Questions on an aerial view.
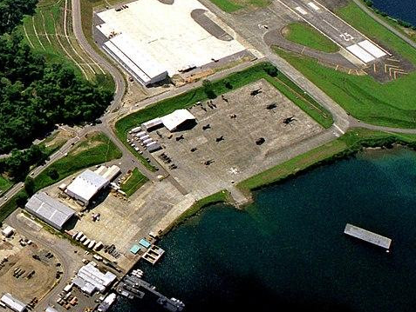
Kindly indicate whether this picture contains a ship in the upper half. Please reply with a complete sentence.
No, I see no ship in the upper half.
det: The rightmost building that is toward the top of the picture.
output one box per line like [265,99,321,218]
[162,112,198,135]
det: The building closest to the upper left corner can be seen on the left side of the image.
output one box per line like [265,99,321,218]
[102,34,169,90]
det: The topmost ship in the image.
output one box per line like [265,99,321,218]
[344,223,391,250]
